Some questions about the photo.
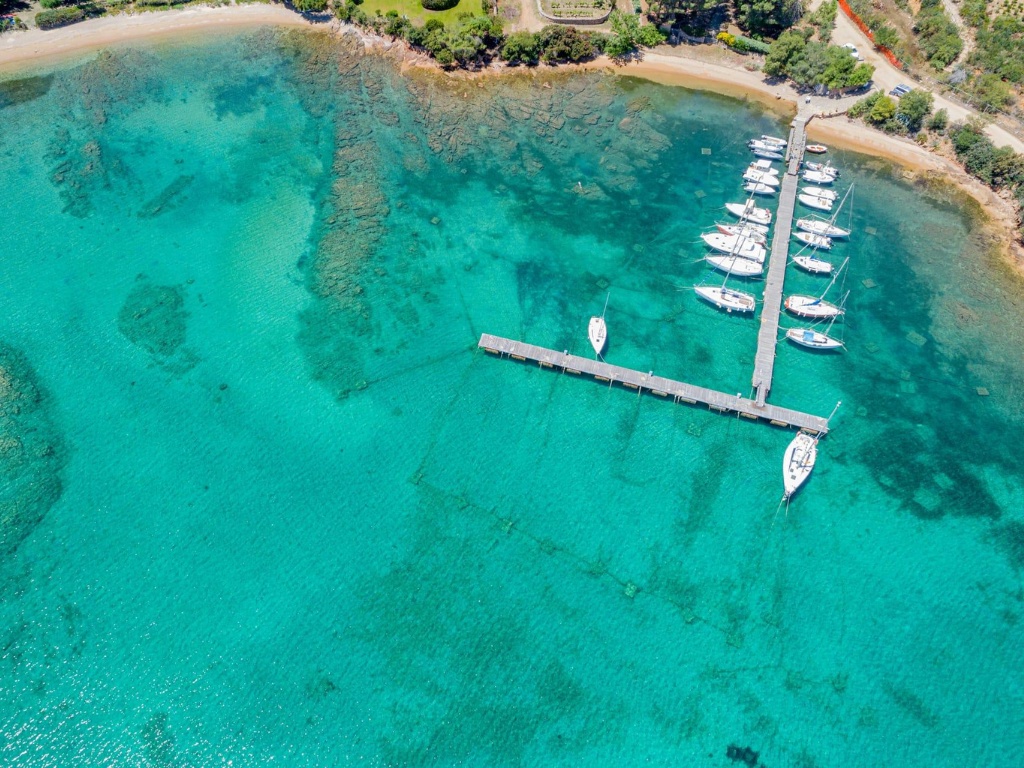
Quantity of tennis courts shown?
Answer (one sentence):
Not a single tennis court can be seen.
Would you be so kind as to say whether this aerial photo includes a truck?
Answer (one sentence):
No, this view has no truck in it.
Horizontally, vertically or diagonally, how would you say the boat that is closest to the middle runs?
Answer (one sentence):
What the image shows is the boat that is closest to the middle lying vertically.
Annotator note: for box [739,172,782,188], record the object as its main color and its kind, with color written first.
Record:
white boat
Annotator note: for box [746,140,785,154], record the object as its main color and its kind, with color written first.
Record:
white boat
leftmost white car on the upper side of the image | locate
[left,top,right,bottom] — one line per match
[841,42,864,59]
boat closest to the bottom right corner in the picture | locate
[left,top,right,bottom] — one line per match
[775,401,841,519]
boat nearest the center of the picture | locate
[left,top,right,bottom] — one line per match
[587,291,610,364]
